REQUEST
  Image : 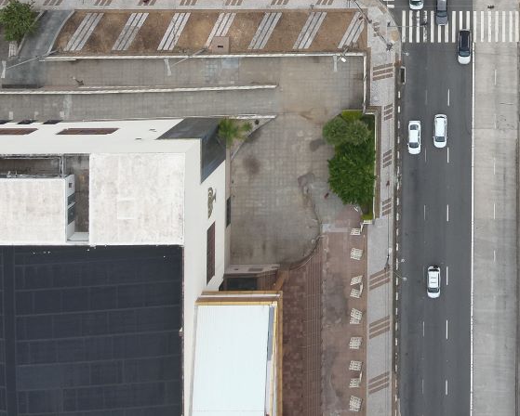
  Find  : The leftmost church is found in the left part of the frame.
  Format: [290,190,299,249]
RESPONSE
[0,120,234,416]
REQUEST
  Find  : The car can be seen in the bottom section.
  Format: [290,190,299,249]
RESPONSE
[425,265,442,296]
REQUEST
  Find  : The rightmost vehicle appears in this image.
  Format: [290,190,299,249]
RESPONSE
[456,29,473,63]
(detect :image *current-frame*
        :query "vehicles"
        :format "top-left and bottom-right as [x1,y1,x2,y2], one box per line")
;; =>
[406,120,422,154]
[425,265,442,296]
[432,113,448,147]
[432,0,449,24]
[410,0,426,10]
[456,29,473,63]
